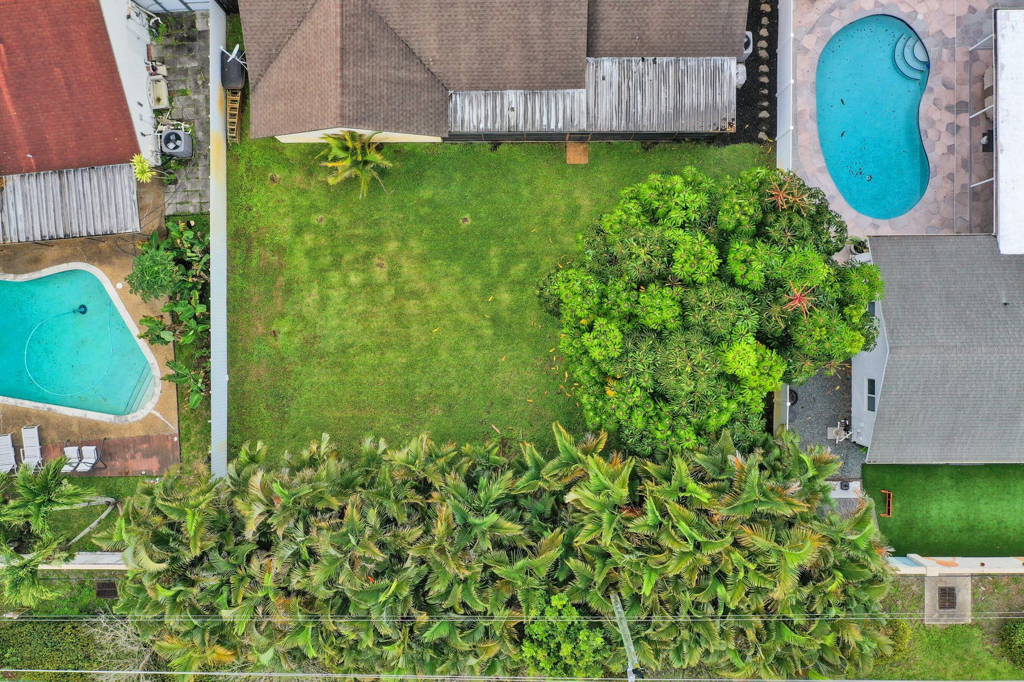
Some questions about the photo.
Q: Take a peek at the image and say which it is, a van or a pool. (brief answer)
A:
pool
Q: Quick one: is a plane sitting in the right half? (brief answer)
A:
No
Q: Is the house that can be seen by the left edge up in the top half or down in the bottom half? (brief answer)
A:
top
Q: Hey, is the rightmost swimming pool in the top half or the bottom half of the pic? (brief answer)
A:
top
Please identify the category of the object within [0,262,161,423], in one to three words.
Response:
swimming pool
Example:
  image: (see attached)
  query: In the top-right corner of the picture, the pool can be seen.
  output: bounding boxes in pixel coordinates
[816,14,930,220]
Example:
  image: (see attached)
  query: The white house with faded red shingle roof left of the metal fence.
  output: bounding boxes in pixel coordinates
[0,0,165,254]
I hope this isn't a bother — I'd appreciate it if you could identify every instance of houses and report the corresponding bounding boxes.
[852,233,1024,466]
[238,0,751,143]
[0,0,165,254]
